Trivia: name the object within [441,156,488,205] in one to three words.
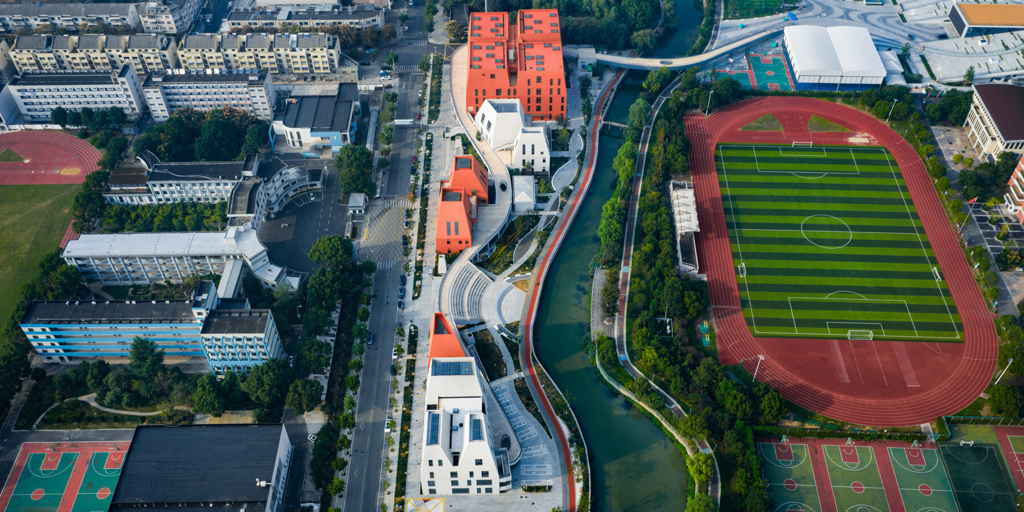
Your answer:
building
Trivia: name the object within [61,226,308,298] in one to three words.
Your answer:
building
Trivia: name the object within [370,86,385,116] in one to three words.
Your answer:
shed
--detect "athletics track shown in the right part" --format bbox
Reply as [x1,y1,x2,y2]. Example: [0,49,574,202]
[682,97,1000,428]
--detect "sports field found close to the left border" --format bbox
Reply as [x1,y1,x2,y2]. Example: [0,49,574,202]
[0,184,85,320]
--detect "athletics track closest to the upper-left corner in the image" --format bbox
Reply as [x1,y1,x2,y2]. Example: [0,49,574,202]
[0,131,99,184]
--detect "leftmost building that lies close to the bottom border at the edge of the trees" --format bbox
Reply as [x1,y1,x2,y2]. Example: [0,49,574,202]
[106,424,291,512]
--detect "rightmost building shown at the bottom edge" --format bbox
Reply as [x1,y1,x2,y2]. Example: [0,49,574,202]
[420,357,511,494]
